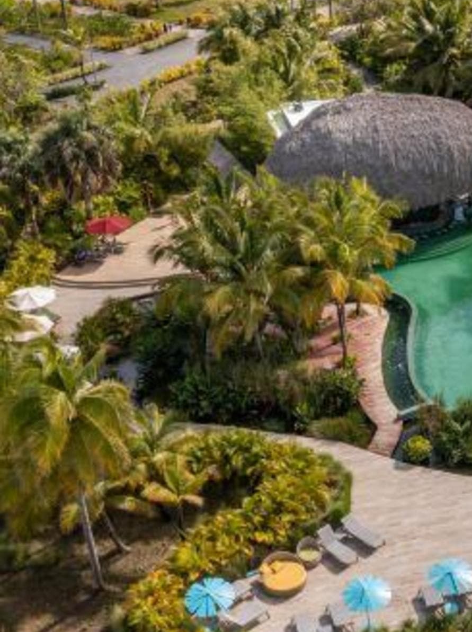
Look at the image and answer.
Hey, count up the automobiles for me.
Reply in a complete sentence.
There are no automobiles in the image.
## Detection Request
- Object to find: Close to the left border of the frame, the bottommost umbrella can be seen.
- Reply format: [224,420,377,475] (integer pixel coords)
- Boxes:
[0,314,59,369]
